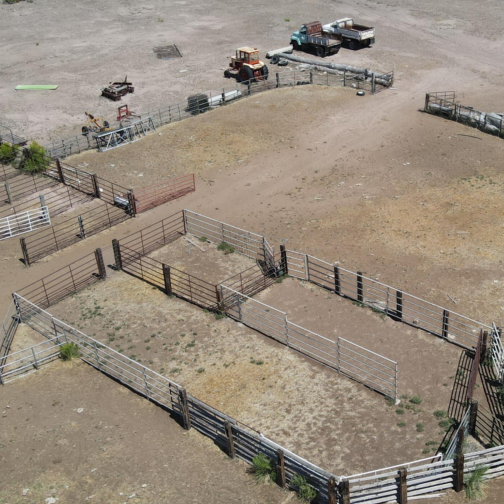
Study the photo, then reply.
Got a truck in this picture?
Yes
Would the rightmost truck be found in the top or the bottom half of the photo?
top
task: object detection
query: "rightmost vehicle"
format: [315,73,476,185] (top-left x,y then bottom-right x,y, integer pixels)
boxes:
[326,17,379,49]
